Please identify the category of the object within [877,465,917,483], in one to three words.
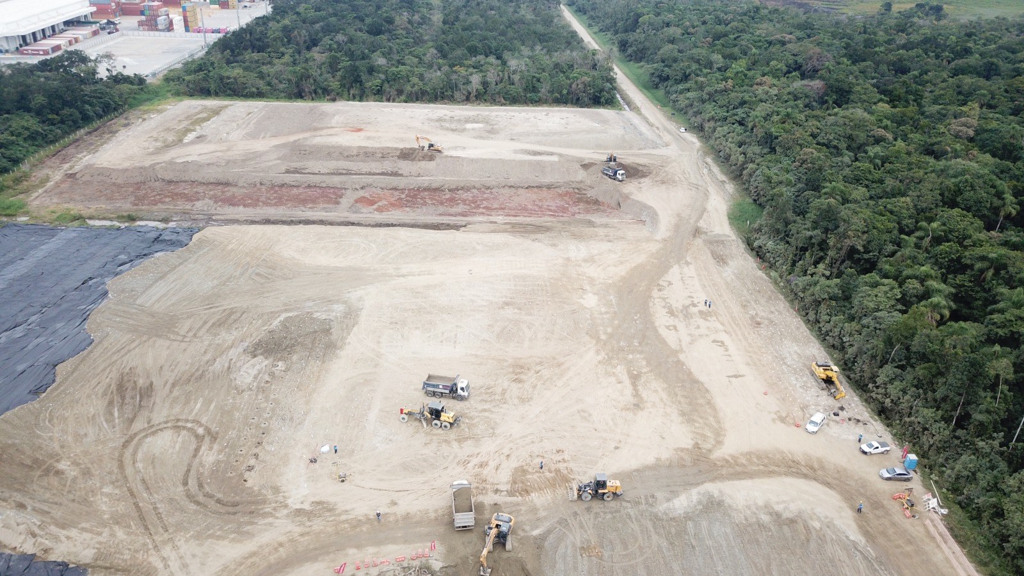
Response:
car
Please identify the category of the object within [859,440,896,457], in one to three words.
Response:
vehicle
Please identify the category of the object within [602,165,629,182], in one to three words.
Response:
vehicle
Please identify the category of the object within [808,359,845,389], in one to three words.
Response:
work vehicle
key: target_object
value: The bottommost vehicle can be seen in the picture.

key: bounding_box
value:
[477,510,516,575]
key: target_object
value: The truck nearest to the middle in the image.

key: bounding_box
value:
[422,375,470,402]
